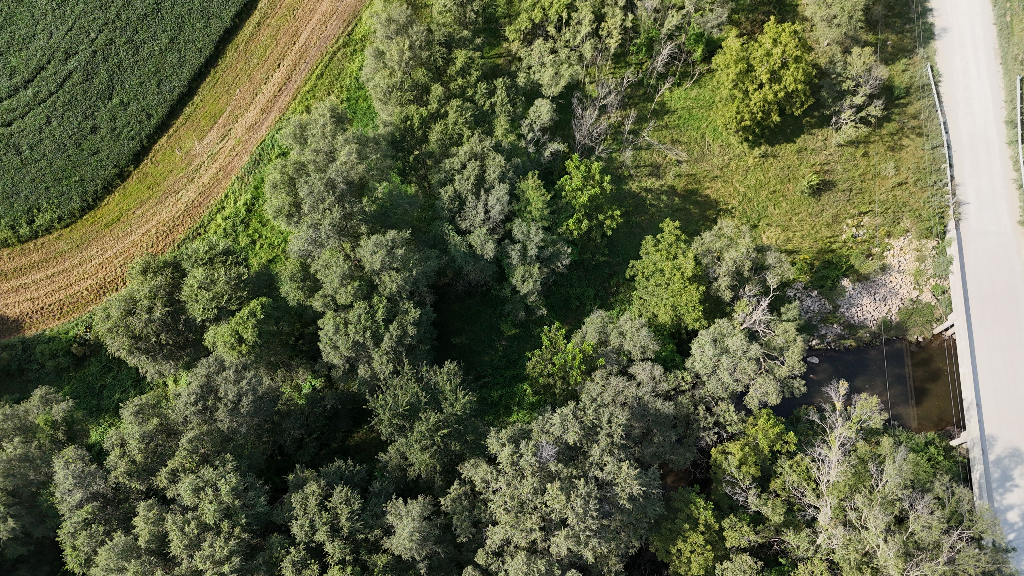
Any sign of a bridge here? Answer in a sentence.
Yes, the image includes a bridge.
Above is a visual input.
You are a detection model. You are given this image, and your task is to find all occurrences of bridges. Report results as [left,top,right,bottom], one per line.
[934,209,999,570]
